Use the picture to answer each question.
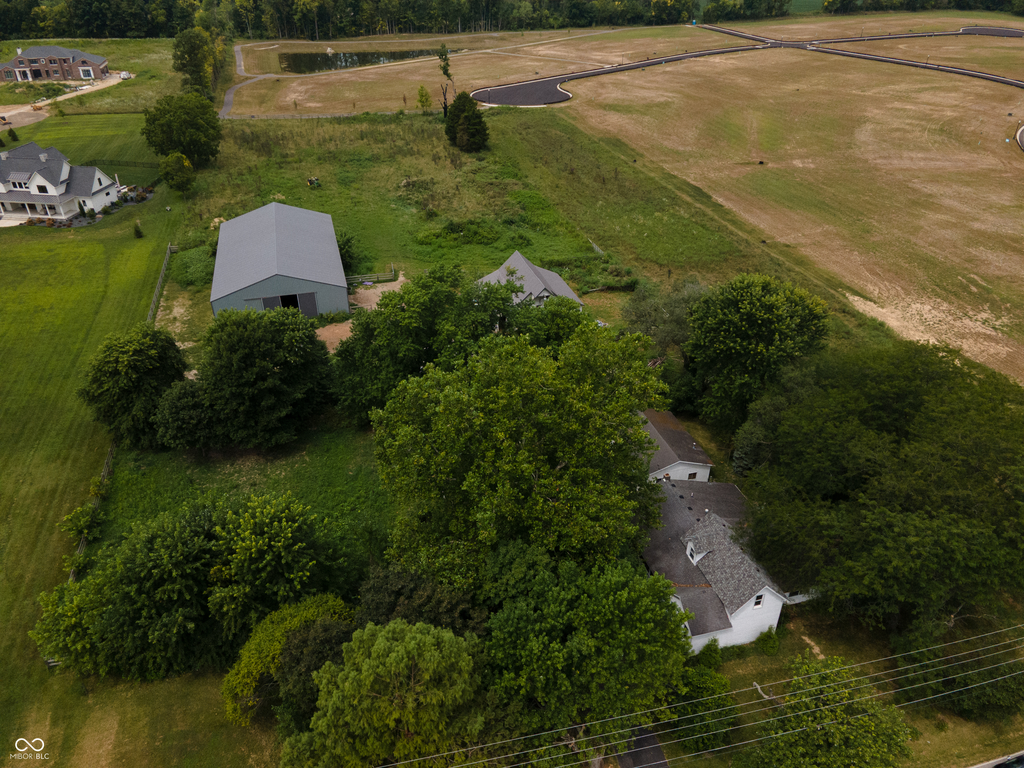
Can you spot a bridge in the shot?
No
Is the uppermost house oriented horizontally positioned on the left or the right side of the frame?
left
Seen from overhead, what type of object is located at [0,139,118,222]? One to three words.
house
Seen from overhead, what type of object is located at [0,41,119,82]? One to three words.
house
